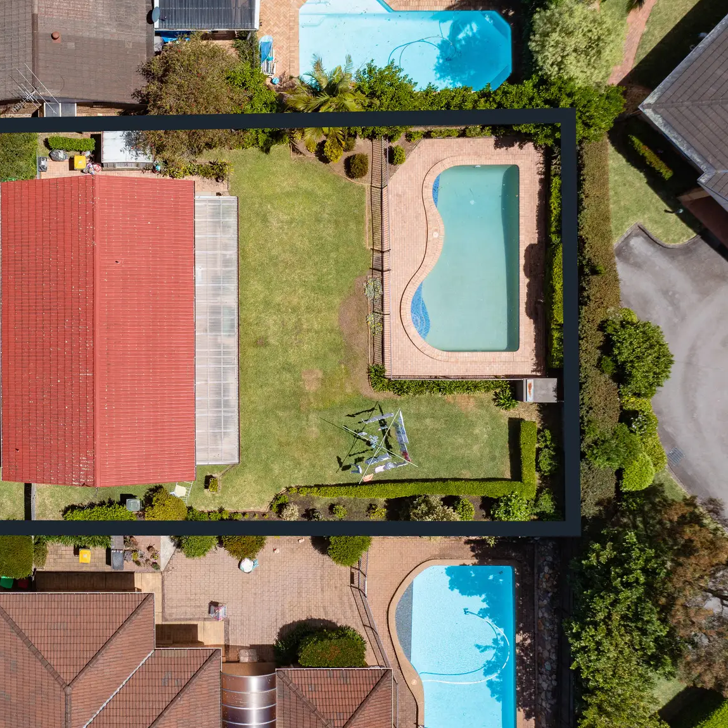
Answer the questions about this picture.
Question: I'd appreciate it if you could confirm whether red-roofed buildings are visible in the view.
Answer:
Yes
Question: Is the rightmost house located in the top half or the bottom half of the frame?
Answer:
top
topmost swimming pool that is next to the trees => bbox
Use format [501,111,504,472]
[289,0,521,100]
